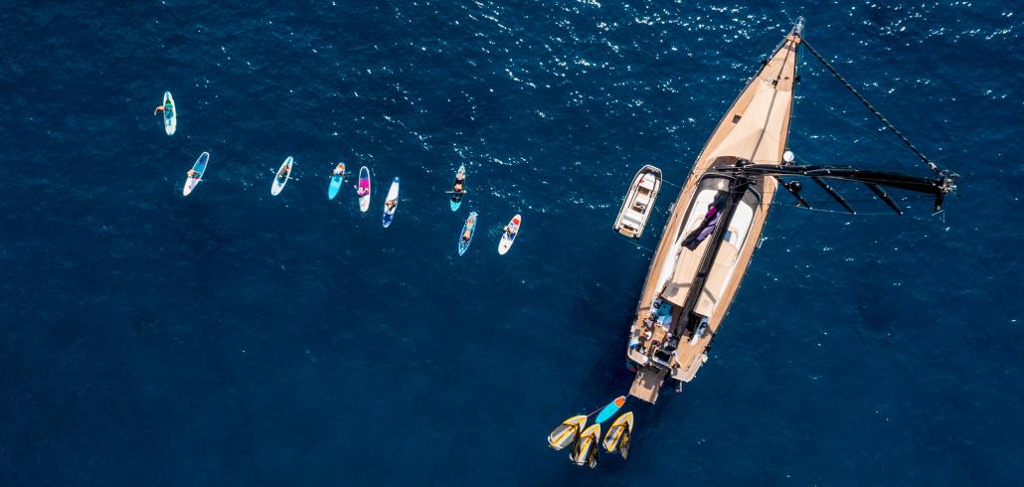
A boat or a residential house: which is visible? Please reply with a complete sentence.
The image shows a boat.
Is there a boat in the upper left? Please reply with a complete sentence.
No, no boat is visible in the upper left.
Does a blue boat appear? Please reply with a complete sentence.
No, the picture doesn't show any blue boat.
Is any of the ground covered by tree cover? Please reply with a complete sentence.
No, the picture contains no tree cover.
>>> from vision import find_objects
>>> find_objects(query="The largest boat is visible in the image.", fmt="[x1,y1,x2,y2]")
[627,15,977,403]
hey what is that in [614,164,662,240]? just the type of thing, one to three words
boat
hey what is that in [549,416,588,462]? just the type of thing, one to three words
boat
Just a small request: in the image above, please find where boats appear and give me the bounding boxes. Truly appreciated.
[614,164,662,240]
[572,424,601,472]
[549,416,588,462]
[603,412,634,460]
[627,15,977,403]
